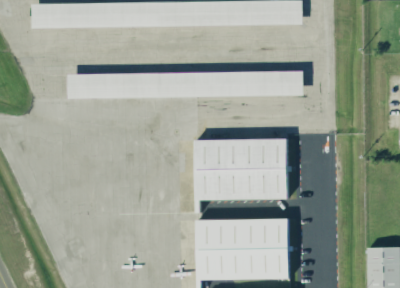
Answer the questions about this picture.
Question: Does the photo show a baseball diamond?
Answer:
No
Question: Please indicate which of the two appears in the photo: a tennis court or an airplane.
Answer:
airplane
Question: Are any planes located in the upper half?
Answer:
No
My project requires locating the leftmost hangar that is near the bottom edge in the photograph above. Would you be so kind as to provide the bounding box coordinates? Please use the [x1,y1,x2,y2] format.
[196,218,294,288]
